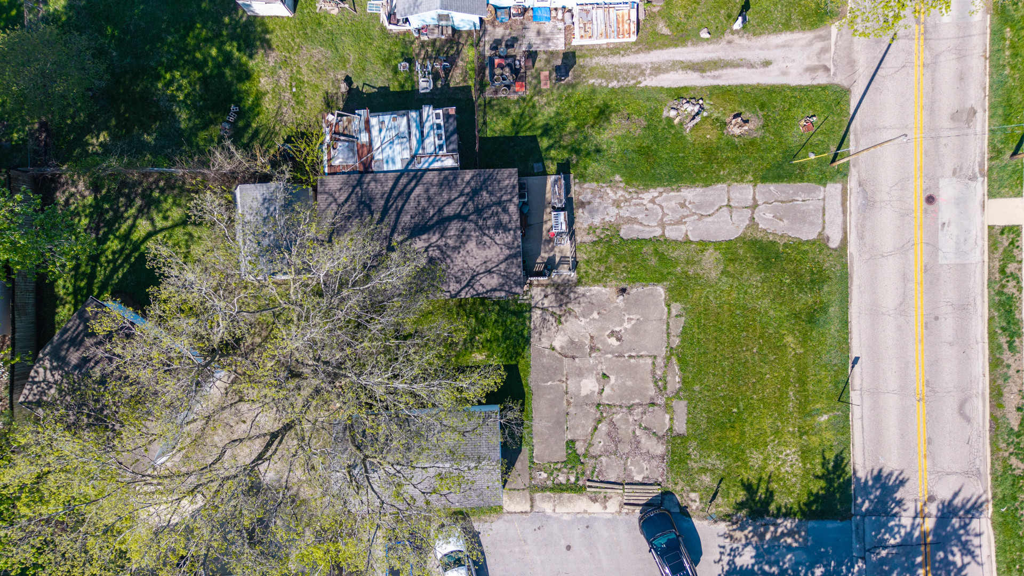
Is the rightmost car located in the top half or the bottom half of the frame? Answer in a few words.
bottom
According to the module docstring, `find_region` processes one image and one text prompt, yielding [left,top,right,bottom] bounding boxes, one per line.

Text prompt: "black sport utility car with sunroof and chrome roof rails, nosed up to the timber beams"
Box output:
[643,506,696,576]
